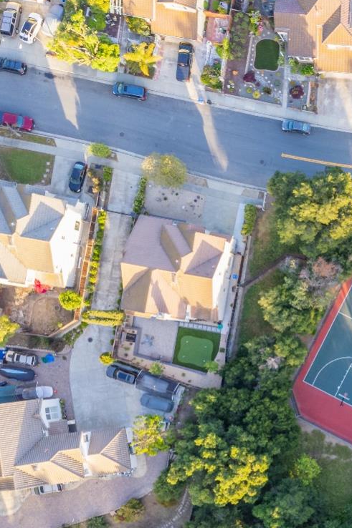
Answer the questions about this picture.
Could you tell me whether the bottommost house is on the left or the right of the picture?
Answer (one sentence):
You can find the bottommost house on the left side of the picture.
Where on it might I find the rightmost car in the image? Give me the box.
[282,119,312,134]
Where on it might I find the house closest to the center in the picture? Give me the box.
[121,216,241,323]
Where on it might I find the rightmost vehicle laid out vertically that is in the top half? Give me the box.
[177,42,193,81]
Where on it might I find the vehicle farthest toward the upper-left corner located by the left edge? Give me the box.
[0,2,22,37]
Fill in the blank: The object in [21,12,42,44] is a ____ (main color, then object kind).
white car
